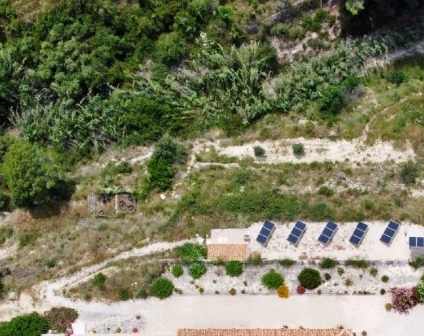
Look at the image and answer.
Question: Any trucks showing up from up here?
No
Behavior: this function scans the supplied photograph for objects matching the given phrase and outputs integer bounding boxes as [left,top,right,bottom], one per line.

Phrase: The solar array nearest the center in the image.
[256,222,276,246]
